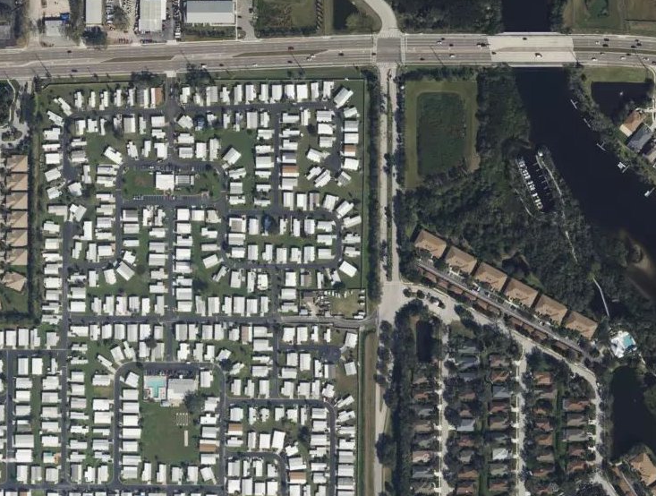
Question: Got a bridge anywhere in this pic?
Yes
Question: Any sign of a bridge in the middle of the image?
No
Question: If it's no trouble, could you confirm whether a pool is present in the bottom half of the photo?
Yes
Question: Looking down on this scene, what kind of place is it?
residential area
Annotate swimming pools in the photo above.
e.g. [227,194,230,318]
[144,376,167,400]
[611,332,637,358]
